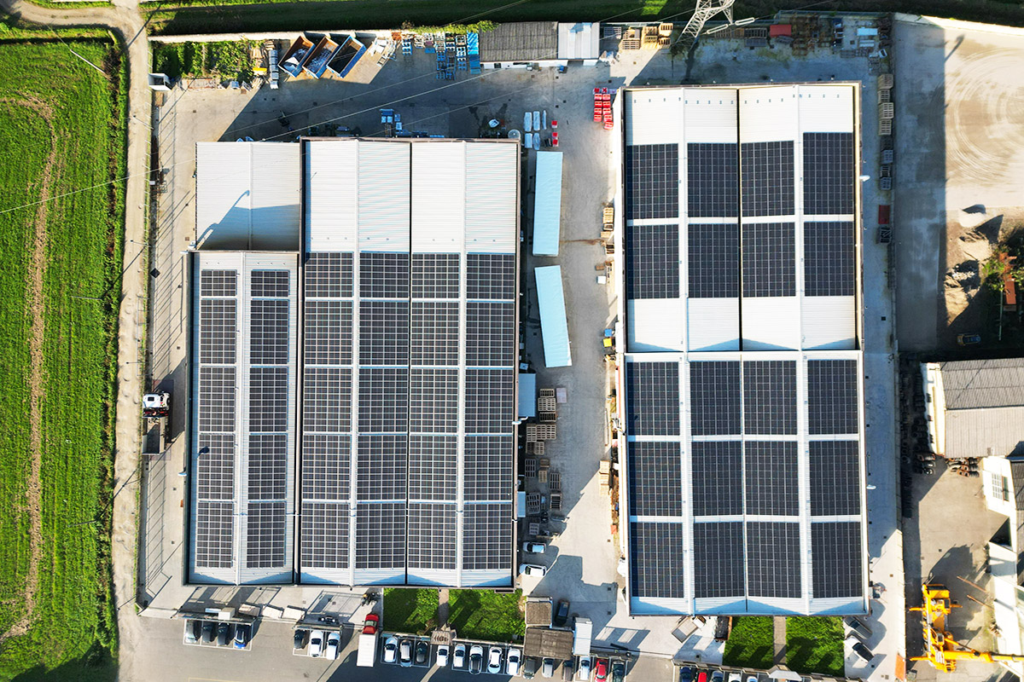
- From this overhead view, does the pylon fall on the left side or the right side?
right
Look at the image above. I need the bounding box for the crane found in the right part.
[908,589,1022,672]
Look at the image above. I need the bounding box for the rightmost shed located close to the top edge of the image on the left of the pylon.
[558,21,599,67]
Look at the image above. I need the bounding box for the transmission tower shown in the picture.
[668,0,731,61]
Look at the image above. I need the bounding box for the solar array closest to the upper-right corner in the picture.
[804,132,853,214]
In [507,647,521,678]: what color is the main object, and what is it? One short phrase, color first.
white car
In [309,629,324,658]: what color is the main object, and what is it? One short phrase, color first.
white car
